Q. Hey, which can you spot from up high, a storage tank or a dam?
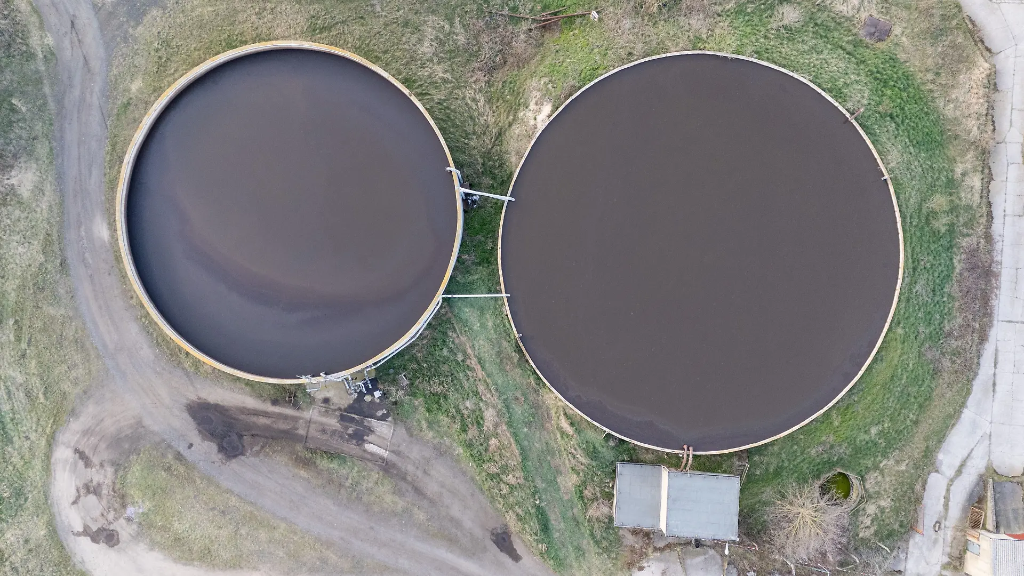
storage tank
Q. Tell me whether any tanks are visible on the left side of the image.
Yes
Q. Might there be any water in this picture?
Yes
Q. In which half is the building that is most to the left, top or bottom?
bottom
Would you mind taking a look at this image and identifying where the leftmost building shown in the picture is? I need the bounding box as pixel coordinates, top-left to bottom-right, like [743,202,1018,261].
[611,462,741,544]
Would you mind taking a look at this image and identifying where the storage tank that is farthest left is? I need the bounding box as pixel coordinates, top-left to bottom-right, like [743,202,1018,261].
[117,40,464,384]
